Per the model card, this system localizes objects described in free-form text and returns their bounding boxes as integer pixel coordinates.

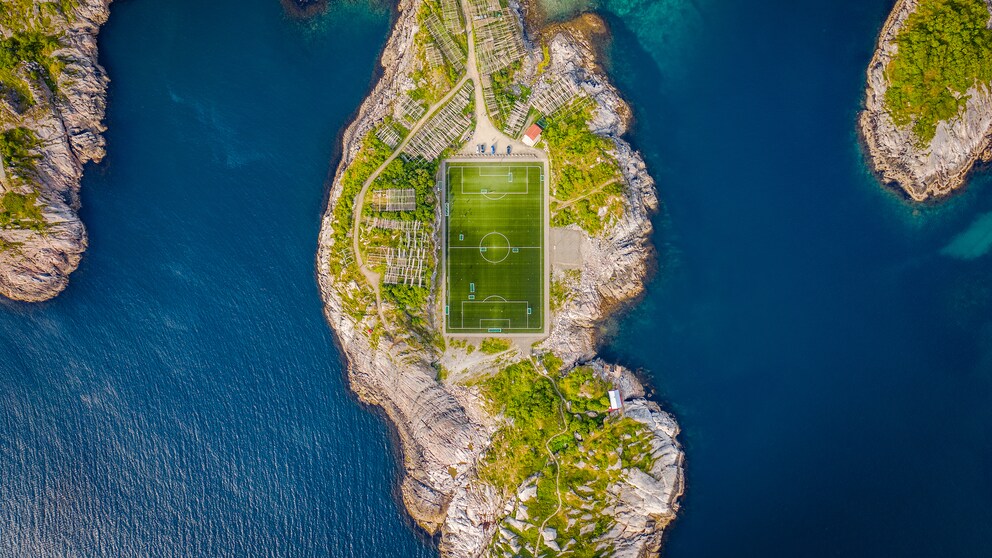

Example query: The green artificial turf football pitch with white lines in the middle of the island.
[442,159,549,337]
